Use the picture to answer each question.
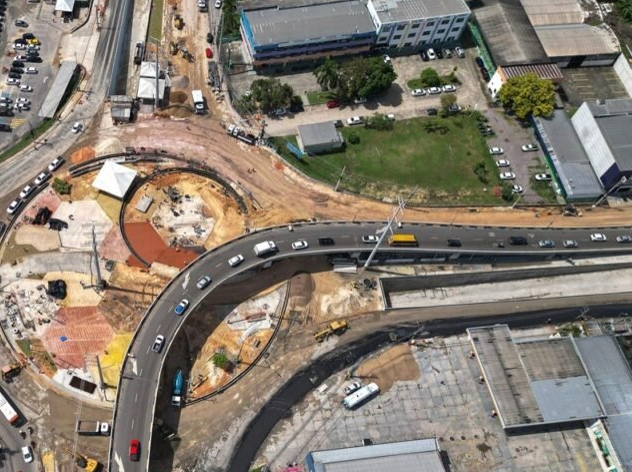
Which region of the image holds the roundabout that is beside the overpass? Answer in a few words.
left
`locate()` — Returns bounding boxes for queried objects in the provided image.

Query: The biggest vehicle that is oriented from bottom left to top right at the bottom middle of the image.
[342,379,382,409]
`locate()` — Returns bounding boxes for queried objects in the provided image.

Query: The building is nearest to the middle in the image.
[331,265,356,278]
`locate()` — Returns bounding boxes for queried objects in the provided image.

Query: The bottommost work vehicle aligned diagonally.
[74,445,99,472]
